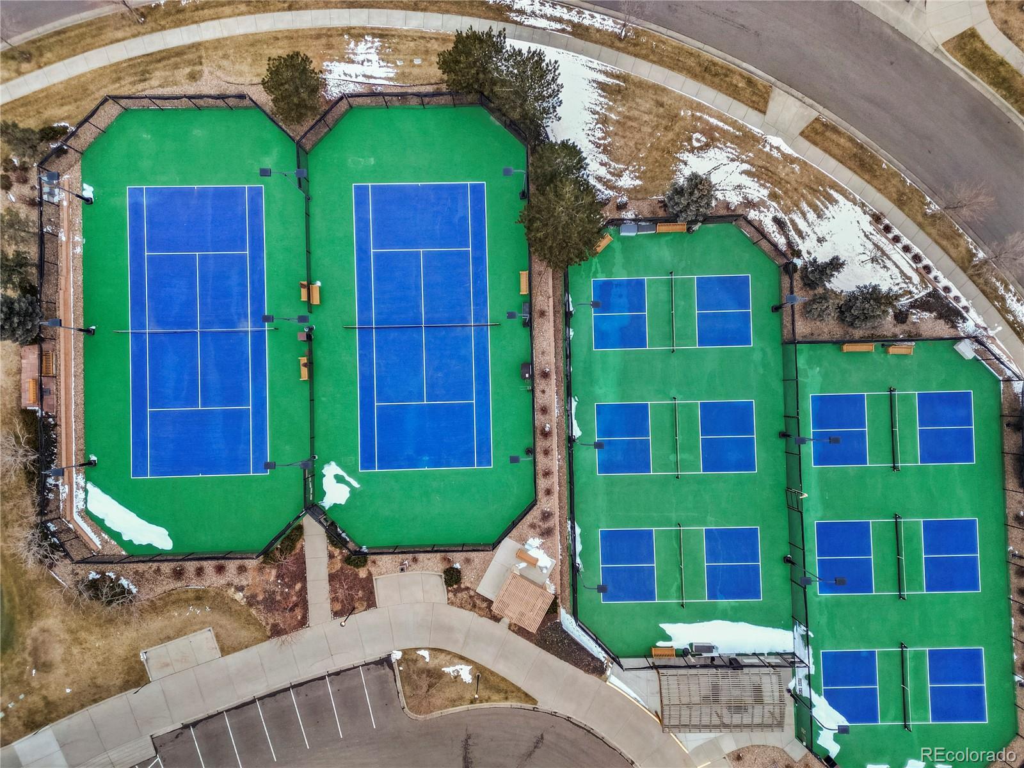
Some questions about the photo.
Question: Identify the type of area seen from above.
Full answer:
It's a sports ground.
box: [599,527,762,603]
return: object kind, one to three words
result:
sports court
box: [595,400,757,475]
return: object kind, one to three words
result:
sports court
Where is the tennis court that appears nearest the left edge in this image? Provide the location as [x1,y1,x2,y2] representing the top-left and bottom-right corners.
[82,106,314,555]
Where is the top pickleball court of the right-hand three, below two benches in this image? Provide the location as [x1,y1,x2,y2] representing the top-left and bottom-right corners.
[810,391,976,467]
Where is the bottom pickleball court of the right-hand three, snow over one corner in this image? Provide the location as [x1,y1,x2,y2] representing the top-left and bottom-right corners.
[821,648,988,725]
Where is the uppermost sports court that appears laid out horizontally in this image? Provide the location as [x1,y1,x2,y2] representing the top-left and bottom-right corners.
[592,274,753,350]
